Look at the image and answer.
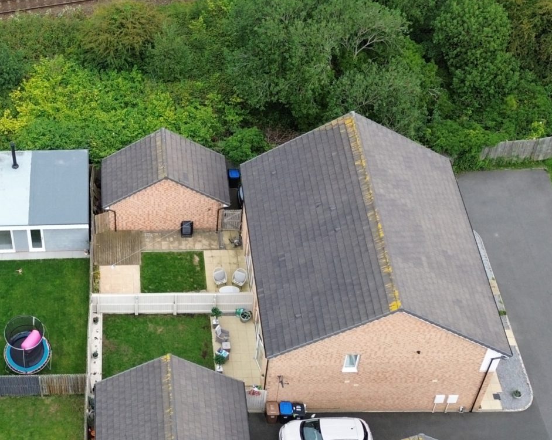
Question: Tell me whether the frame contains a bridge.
No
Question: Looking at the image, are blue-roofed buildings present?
No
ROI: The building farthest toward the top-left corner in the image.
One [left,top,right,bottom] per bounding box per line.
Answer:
[100,127,232,233]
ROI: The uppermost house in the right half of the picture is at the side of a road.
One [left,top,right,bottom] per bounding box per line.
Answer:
[240,110,515,416]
